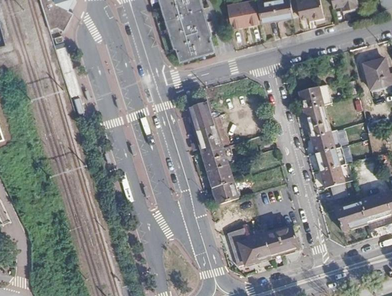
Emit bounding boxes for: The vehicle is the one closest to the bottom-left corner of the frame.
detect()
[120,176,134,202]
